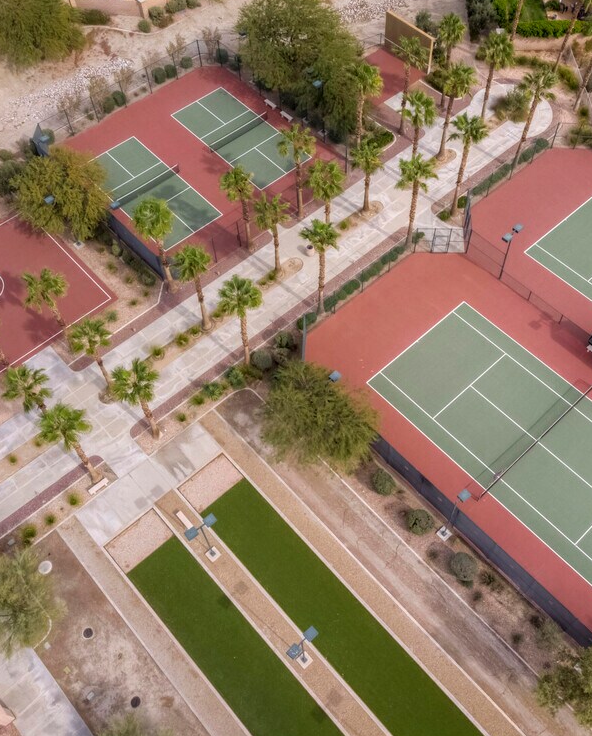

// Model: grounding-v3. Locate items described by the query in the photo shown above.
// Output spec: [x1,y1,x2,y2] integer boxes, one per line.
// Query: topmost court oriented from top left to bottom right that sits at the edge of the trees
[171,87,311,189]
